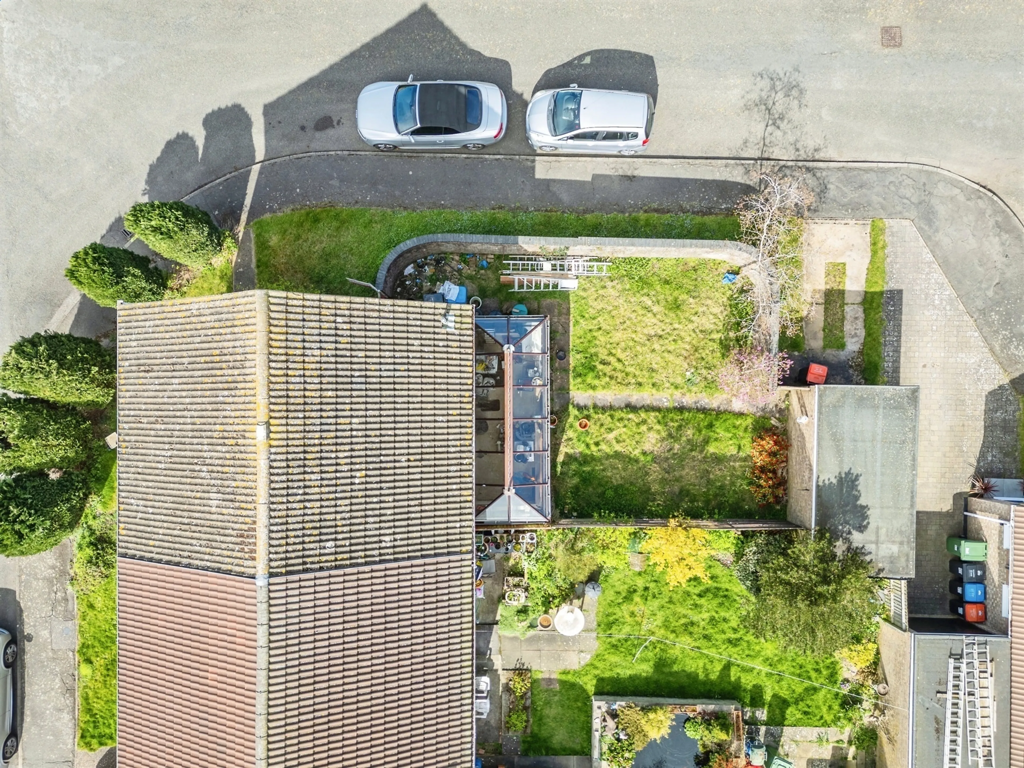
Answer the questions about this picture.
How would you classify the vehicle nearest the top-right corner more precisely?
car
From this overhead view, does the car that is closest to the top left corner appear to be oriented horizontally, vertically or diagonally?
horizontally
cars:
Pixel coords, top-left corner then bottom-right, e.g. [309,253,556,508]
[353,73,504,150]
[527,77,655,154]
[0,630,16,768]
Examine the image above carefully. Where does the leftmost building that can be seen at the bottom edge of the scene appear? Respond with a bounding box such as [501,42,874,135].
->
[113,550,478,768]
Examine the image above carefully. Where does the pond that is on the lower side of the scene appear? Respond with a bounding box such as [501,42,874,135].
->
[592,696,745,768]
